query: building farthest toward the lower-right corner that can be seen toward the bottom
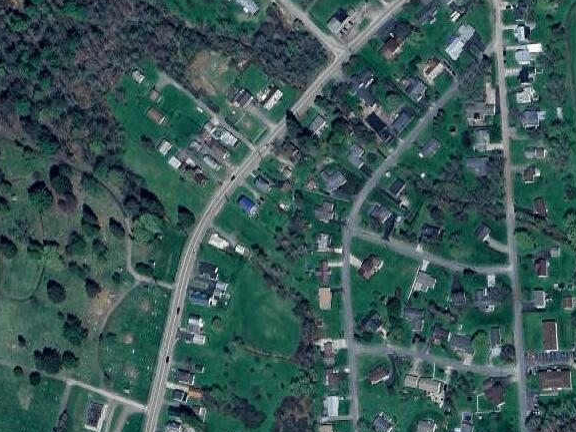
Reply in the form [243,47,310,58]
[538,369,572,394]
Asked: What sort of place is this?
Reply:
residential area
